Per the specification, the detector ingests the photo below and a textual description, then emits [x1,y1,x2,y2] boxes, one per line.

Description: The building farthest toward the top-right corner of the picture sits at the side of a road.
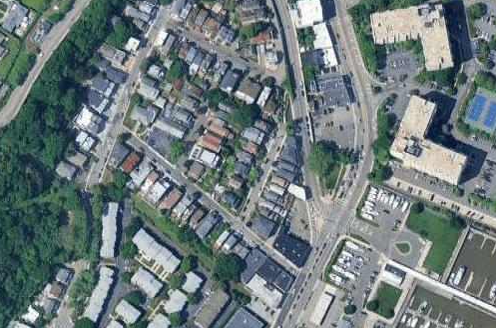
[371,4,453,73]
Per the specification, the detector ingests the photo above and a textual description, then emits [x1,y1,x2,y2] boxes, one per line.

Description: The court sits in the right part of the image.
[465,88,496,135]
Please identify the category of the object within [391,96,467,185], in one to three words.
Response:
building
